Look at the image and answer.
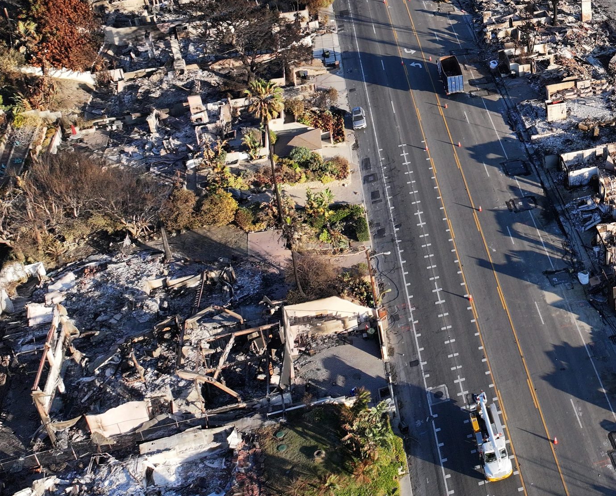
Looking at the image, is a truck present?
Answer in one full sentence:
Yes, you can see a truck in this photo.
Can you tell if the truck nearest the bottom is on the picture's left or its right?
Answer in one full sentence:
The truck nearest the bottom appears in the right half of the scene.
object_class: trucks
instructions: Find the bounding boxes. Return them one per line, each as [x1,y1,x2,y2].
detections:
[434,50,463,93]
[459,373,509,478]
